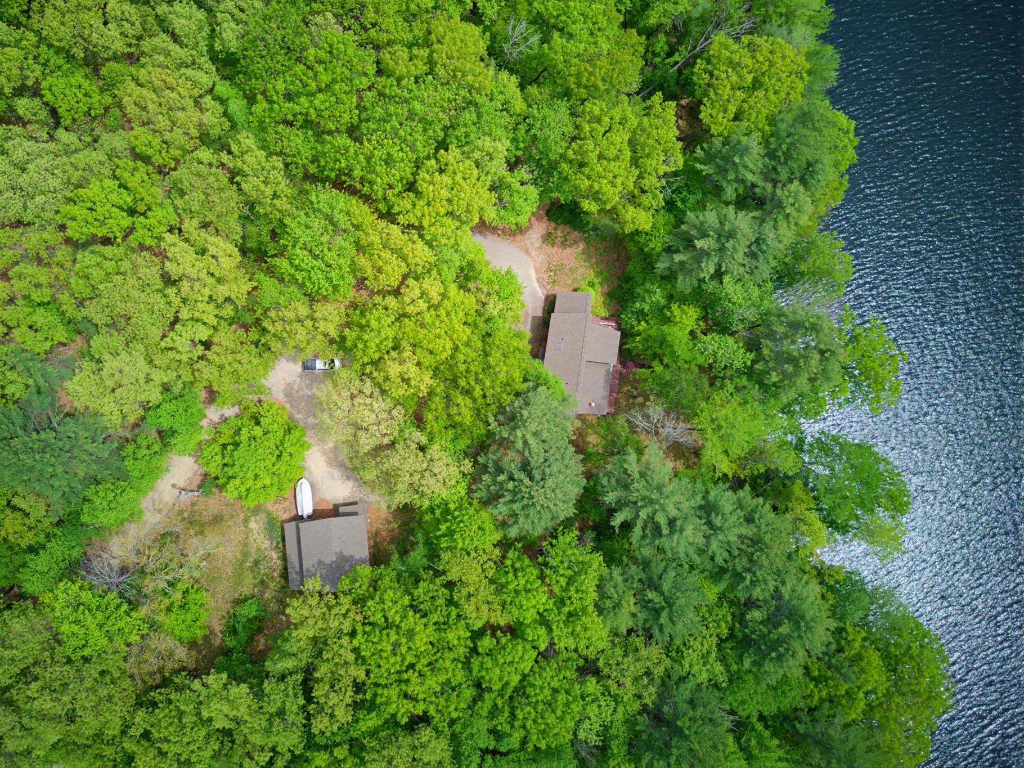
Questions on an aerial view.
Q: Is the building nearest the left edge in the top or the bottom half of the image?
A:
bottom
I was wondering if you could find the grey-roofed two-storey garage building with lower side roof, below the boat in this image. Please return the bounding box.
[284,502,375,592]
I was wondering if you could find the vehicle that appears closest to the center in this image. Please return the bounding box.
[302,357,343,373]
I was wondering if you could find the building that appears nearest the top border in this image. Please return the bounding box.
[541,292,622,415]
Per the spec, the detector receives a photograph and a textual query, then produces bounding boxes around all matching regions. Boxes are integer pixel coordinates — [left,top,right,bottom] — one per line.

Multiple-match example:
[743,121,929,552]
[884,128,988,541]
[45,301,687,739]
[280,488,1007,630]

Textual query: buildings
[284,502,375,592]
[541,292,622,415]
